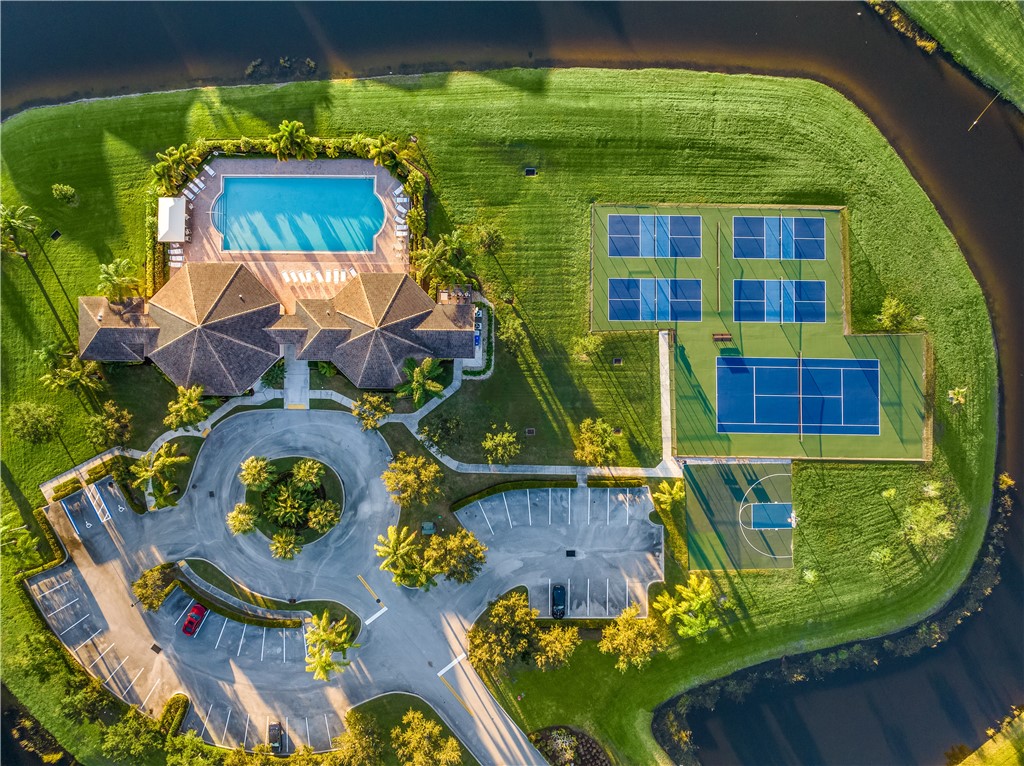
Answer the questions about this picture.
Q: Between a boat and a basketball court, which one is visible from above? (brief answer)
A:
basketball court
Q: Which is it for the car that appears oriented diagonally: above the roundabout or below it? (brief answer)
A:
below it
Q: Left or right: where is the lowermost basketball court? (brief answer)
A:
right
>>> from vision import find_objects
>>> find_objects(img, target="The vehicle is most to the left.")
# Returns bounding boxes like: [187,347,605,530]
[180,605,207,637]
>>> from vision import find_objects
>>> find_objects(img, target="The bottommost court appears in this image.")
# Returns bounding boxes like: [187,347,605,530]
[684,464,793,570]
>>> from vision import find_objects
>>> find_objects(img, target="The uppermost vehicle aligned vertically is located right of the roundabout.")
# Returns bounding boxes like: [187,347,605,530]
[550,585,566,619]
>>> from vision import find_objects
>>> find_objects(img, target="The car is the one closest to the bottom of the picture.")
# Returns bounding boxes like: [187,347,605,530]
[265,722,282,755]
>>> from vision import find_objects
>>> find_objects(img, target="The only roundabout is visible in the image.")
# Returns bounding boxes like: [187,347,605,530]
[198,415,384,601]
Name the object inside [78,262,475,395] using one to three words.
building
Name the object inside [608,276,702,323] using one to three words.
sports court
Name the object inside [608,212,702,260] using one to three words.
sports court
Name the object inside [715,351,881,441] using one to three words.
tennis court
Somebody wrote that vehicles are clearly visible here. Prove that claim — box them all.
[180,605,207,637]
[265,722,282,755]
[550,585,566,619]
